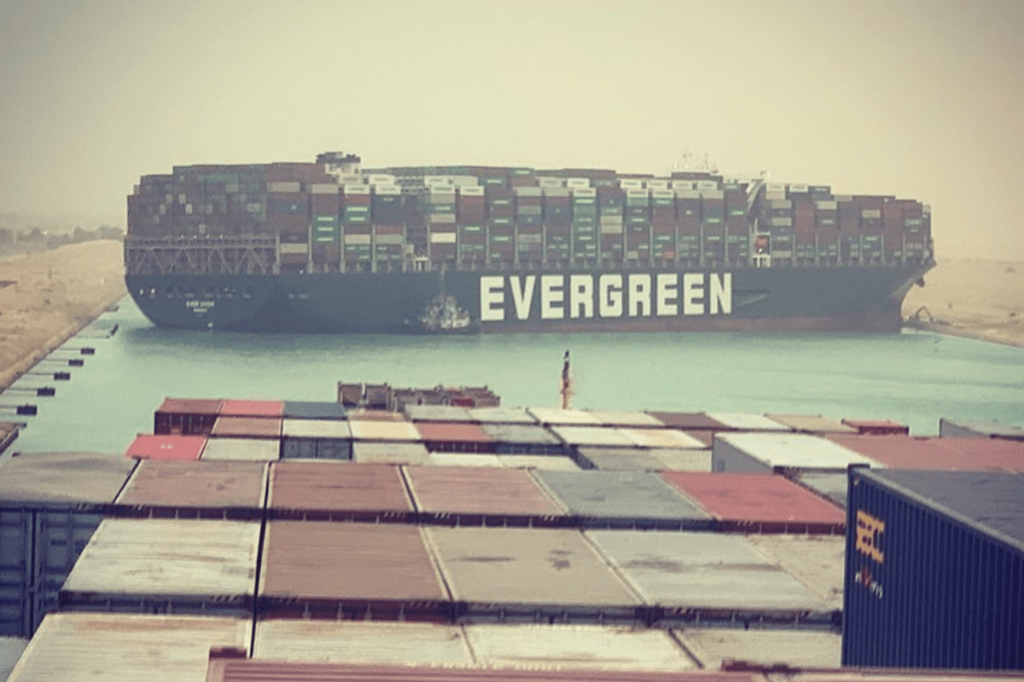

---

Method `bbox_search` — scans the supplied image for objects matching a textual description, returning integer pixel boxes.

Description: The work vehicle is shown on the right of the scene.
[909,304,937,321]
